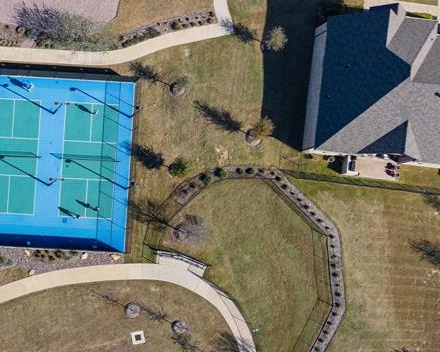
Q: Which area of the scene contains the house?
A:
top right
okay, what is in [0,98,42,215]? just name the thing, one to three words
sports court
